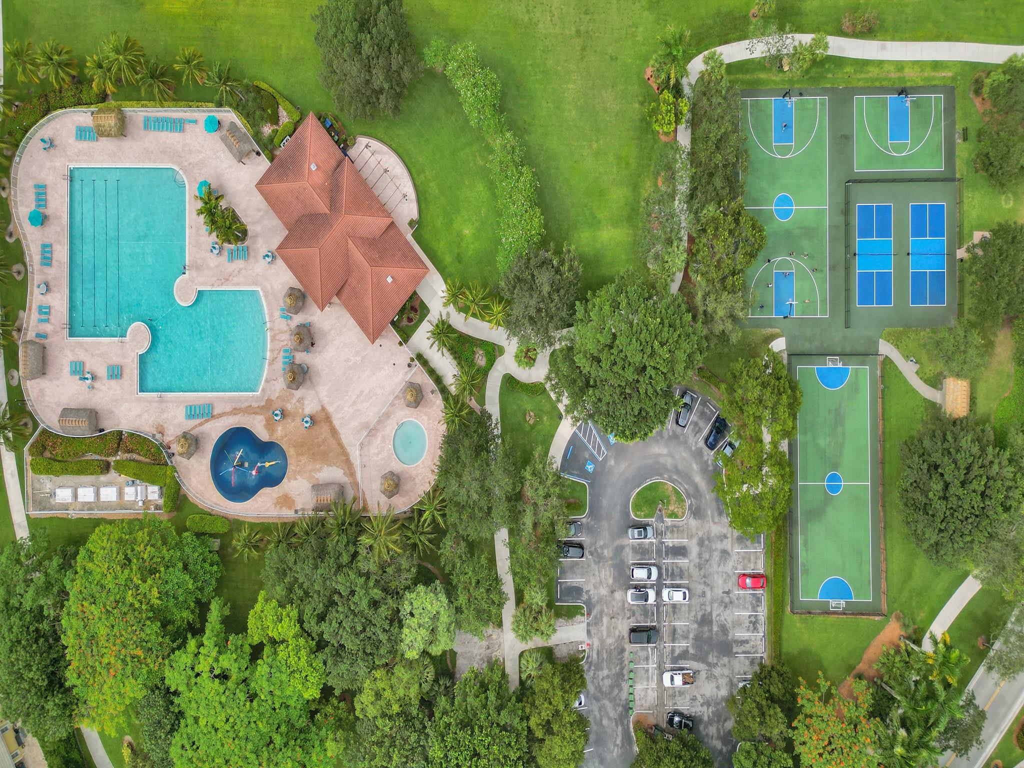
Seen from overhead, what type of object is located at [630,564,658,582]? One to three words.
car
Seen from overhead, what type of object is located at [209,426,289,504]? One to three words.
swimming pool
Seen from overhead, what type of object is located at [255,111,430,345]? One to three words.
building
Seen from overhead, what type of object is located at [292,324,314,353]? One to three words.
umbrella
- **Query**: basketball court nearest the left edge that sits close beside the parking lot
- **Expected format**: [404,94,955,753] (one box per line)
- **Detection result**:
[740,97,829,317]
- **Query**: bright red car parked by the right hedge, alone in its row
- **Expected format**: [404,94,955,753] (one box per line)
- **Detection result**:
[737,573,766,590]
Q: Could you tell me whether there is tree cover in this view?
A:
Yes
